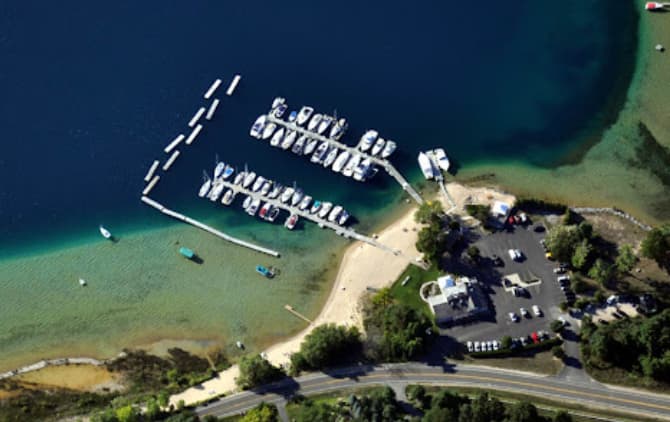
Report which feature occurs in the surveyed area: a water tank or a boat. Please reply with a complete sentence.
The one in the frame is a boat.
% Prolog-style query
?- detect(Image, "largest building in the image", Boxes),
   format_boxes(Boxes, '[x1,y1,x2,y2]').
[421,275,491,325]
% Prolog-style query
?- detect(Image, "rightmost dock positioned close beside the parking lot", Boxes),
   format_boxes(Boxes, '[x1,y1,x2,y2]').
[426,149,454,214]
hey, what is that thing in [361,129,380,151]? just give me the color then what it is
white boat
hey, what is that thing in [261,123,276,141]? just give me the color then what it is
white boat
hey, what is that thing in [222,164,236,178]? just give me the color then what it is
blue boat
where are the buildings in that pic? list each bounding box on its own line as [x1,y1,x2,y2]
[491,202,509,219]
[421,275,491,325]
